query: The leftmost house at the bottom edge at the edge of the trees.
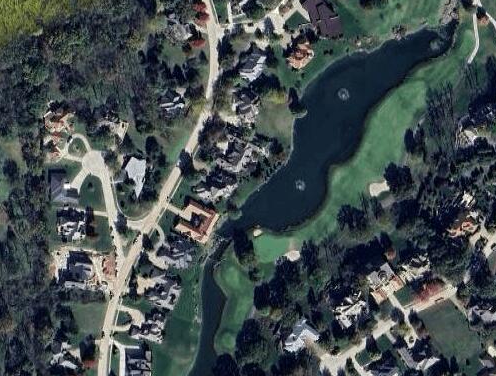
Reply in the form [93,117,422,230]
[49,340,80,375]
